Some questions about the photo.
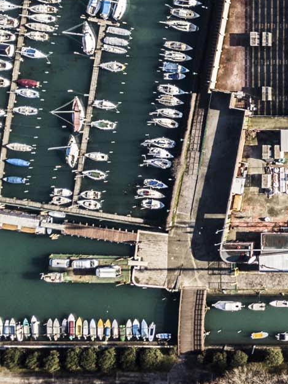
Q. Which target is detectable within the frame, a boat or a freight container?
boat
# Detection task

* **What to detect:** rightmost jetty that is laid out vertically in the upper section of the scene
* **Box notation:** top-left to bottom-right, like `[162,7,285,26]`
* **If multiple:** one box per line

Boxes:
[73,22,104,205]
